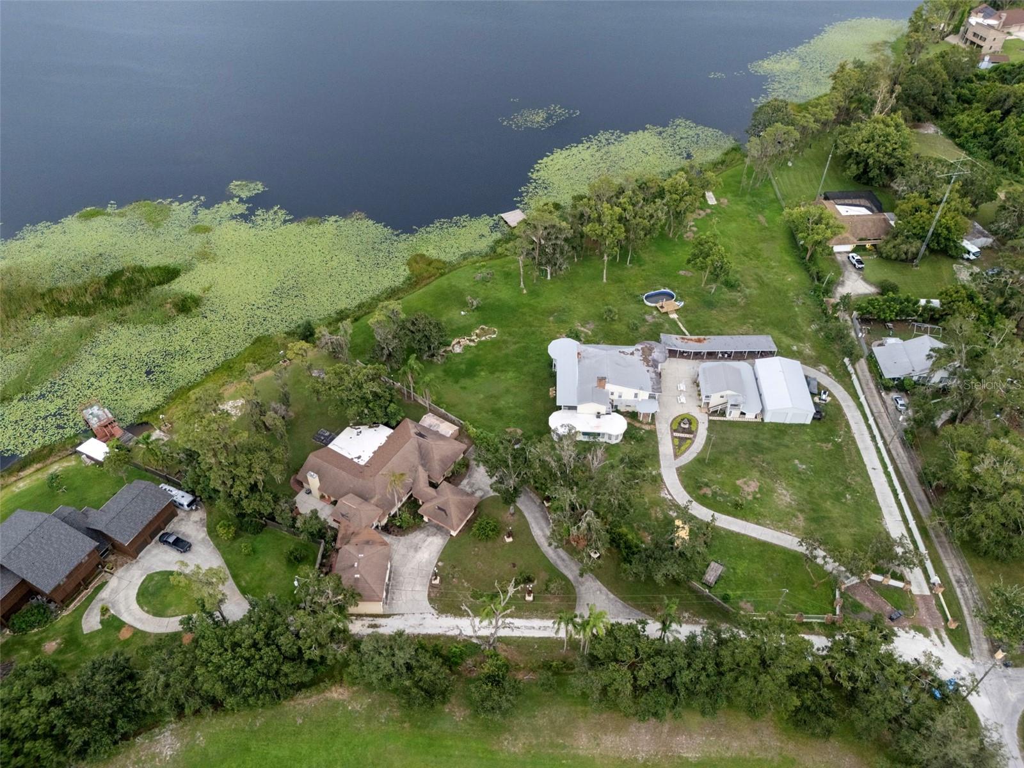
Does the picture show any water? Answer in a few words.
Yes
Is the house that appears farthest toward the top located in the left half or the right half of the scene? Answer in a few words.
right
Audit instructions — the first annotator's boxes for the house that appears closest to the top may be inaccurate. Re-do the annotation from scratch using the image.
[953,4,1024,54]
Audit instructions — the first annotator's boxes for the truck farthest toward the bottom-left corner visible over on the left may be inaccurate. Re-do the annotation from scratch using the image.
[155,530,192,552]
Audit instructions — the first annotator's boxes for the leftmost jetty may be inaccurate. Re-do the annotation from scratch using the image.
[501,209,531,237]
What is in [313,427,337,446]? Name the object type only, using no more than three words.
solar array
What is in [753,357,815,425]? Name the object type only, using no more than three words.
building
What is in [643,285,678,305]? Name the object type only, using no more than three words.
swimming pool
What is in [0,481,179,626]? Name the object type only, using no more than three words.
house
